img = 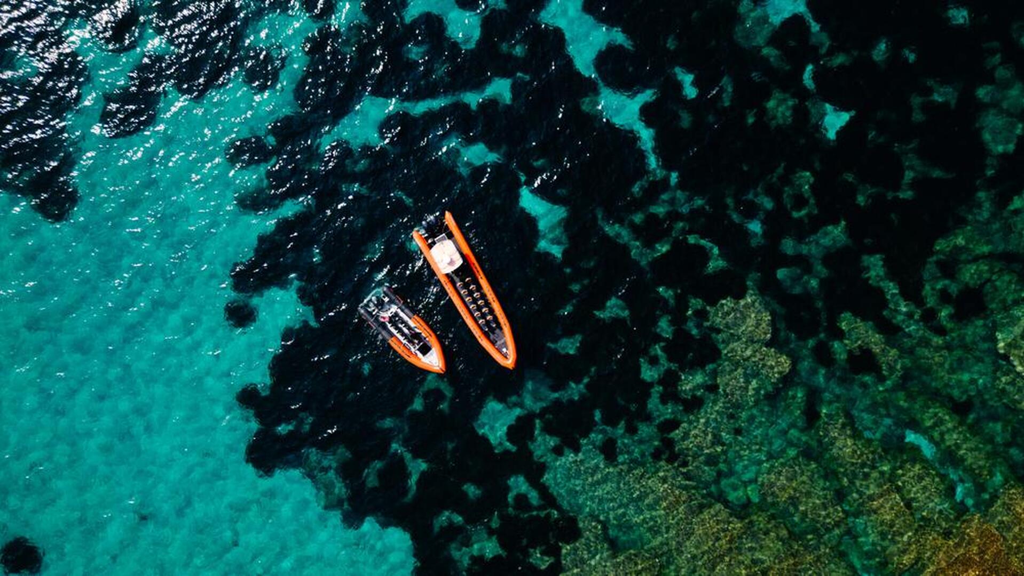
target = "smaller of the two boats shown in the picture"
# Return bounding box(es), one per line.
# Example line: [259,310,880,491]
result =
[361,286,444,374]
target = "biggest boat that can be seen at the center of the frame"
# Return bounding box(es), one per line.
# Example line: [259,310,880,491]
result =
[413,211,516,371]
